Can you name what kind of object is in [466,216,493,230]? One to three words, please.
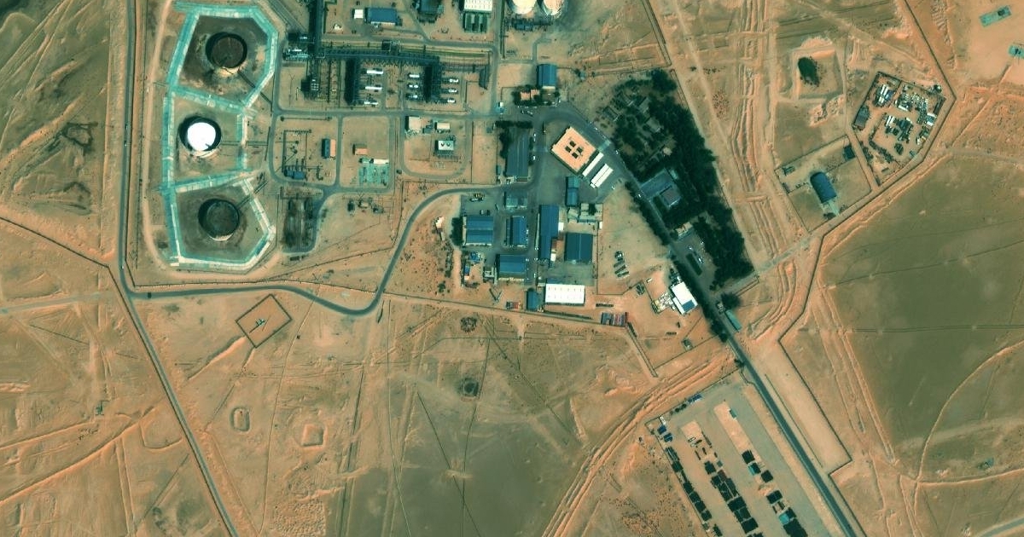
building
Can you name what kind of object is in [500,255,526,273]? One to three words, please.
building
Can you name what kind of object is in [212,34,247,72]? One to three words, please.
storage tank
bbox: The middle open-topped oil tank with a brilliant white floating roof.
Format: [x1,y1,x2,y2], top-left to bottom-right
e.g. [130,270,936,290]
[185,117,221,155]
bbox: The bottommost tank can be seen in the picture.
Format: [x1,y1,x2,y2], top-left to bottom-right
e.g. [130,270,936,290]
[204,199,240,237]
